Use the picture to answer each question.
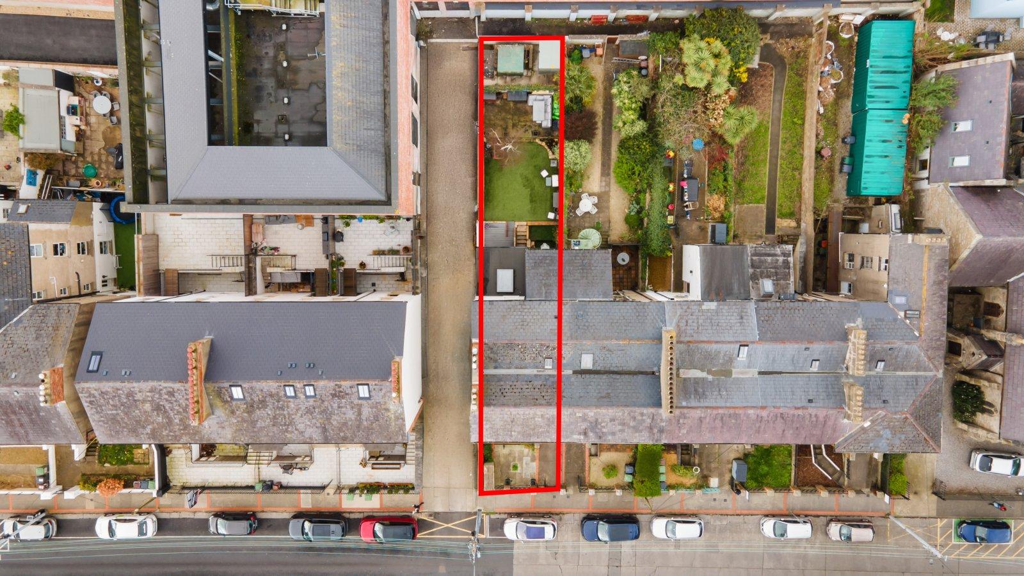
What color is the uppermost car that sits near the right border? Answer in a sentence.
In this view, the uppermost car that sits near the right border is white.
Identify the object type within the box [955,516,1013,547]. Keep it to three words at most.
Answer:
car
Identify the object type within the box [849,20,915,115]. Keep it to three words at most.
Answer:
shed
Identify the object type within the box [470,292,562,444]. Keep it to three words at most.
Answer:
house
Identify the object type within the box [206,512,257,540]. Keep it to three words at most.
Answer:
car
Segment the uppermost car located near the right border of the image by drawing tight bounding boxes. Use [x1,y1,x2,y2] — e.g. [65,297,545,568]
[969,446,1024,479]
